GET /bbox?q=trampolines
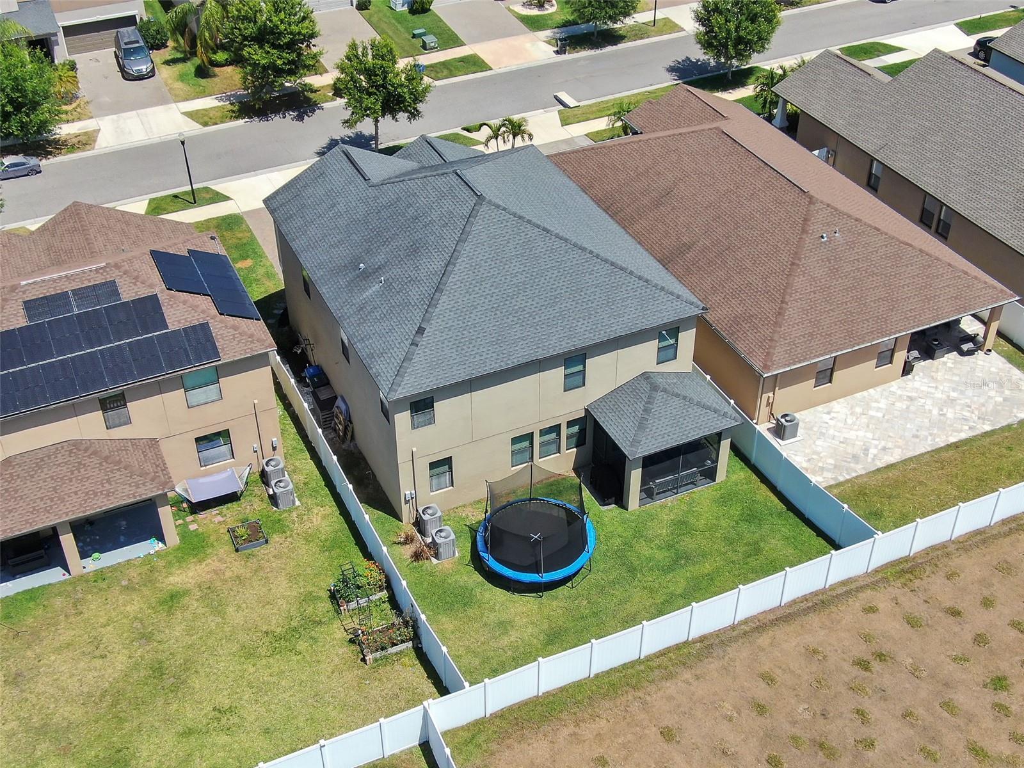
[475,461,601,603]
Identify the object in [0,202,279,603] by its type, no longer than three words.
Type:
house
